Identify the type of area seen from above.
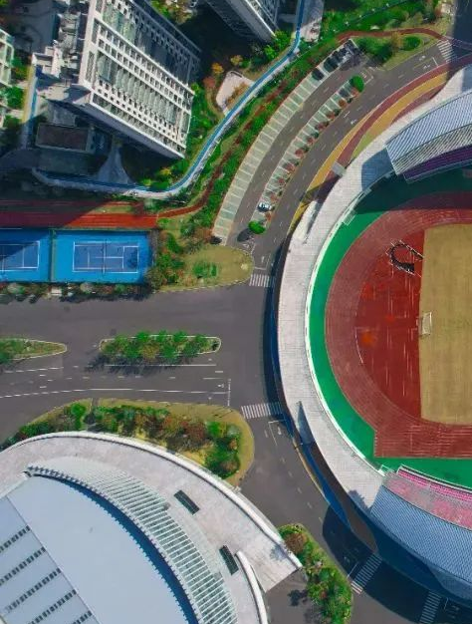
sports ground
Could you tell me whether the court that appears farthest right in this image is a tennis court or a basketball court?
tennis court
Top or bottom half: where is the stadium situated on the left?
bottom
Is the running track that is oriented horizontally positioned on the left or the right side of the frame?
left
